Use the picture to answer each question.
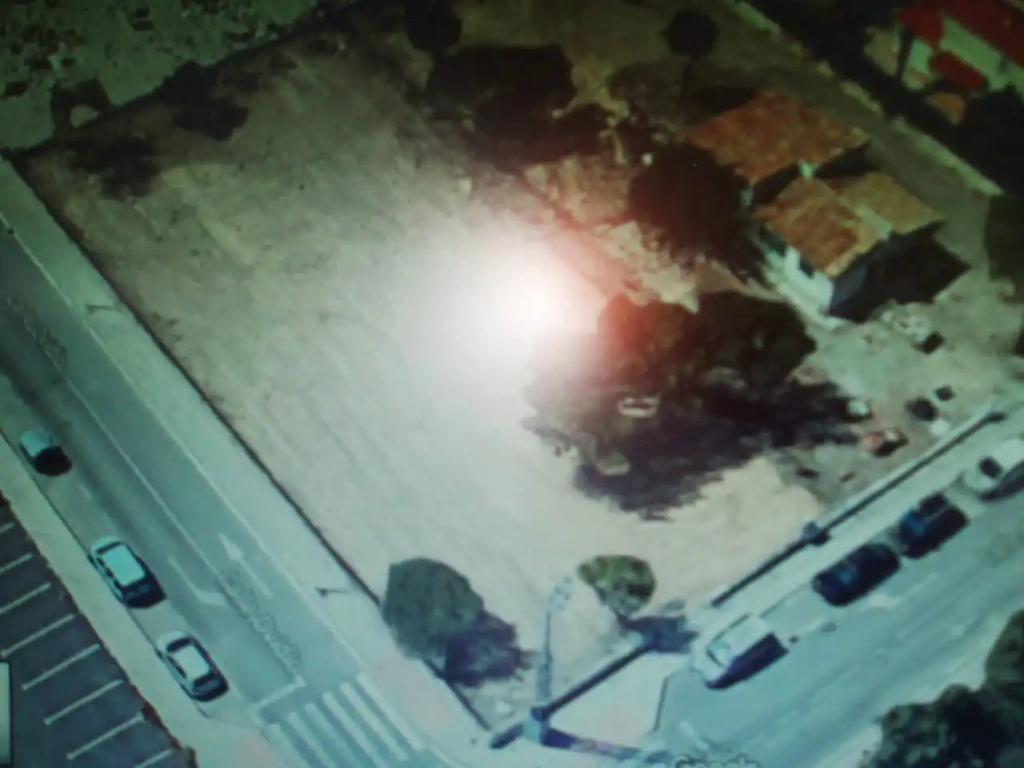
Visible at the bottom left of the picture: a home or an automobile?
automobile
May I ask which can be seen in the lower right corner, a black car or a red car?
black car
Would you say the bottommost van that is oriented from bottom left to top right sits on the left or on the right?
right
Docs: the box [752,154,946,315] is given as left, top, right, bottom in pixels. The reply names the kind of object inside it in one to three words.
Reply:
house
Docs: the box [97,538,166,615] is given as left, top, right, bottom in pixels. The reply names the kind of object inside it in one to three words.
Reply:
car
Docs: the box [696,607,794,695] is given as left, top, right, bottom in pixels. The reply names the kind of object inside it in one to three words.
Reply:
van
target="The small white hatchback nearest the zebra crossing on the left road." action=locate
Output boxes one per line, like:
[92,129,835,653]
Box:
[161,628,229,705]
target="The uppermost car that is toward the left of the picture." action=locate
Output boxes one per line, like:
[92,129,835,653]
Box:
[19,427,75,486]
